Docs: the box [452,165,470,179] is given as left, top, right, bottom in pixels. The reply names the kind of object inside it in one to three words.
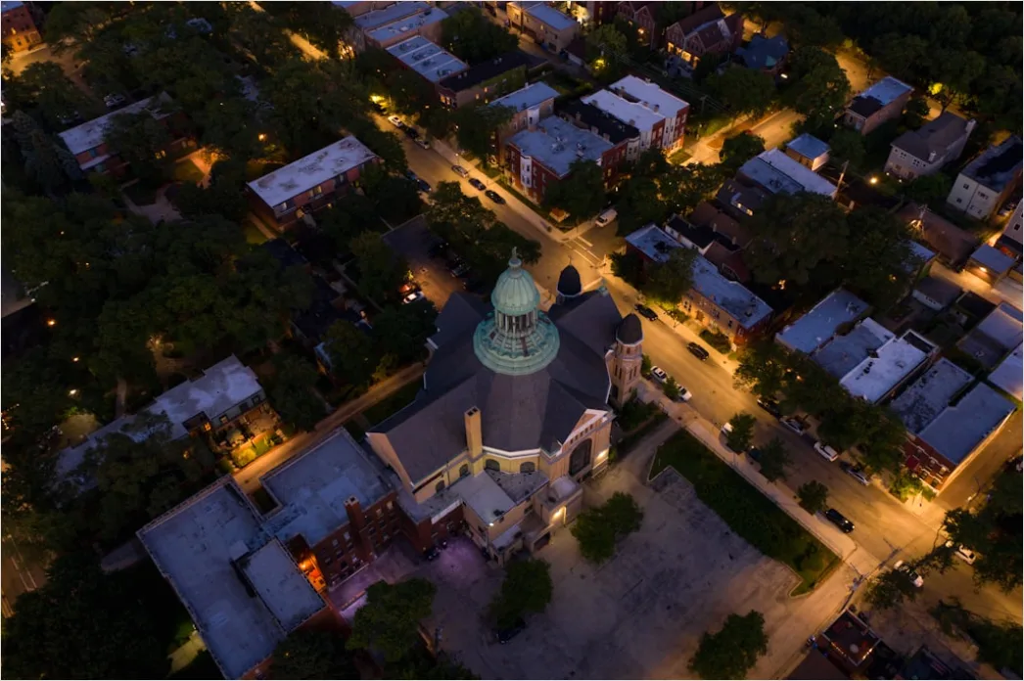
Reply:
car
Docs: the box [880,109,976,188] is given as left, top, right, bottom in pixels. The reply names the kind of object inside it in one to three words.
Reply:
house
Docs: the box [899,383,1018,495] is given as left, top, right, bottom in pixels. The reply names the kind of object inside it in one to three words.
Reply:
building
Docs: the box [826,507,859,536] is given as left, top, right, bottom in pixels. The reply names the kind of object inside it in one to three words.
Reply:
car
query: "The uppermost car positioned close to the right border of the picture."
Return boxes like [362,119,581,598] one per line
[996,207,1014,222]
